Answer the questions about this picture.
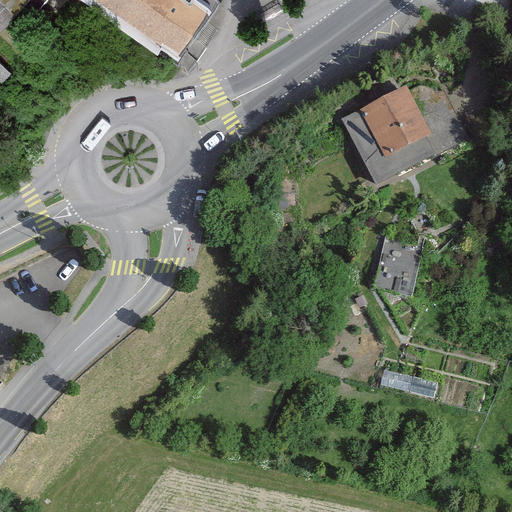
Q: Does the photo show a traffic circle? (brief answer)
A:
Yes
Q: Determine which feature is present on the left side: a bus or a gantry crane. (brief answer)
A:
bus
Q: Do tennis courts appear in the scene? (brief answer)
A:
No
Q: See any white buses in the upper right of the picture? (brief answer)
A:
No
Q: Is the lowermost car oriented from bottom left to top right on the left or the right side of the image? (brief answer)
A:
left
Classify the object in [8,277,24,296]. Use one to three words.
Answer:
car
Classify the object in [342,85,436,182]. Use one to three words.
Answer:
house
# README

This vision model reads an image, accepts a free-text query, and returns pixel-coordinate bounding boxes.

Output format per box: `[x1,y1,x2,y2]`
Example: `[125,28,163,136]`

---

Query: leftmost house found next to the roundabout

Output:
[84,0,213,61]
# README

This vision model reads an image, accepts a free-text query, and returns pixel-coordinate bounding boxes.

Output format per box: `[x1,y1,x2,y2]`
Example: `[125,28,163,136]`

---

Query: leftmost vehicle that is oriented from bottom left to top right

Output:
[58,258,78,282]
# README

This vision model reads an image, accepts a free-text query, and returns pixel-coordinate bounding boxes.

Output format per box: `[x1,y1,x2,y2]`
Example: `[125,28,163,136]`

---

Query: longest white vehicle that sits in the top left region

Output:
[81,117,115,152]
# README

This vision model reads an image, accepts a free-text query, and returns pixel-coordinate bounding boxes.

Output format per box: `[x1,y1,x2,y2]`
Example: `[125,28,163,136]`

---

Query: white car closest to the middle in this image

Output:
[202,132,226,152]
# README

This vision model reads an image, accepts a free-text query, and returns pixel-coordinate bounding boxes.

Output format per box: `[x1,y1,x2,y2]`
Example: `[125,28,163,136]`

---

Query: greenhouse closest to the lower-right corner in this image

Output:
[380,368,438,398]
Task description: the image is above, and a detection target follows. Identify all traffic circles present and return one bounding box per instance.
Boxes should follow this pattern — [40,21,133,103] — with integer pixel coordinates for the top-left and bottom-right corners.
[55,84,205,234]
